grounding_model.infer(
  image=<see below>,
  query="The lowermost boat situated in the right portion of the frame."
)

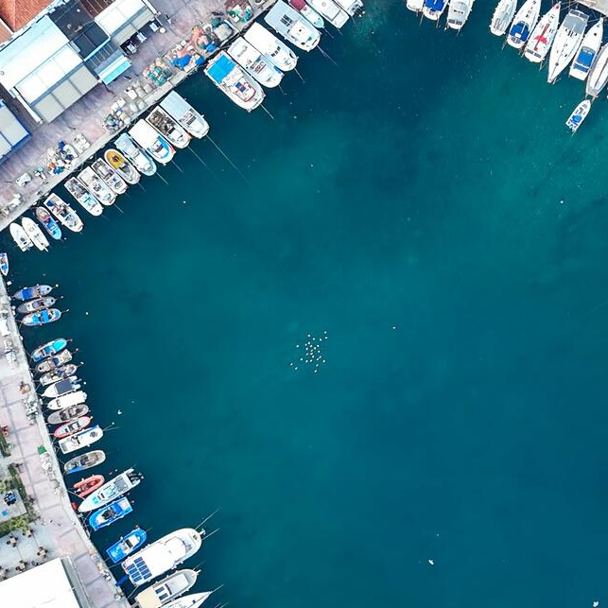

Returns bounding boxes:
[565,100,589,132]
